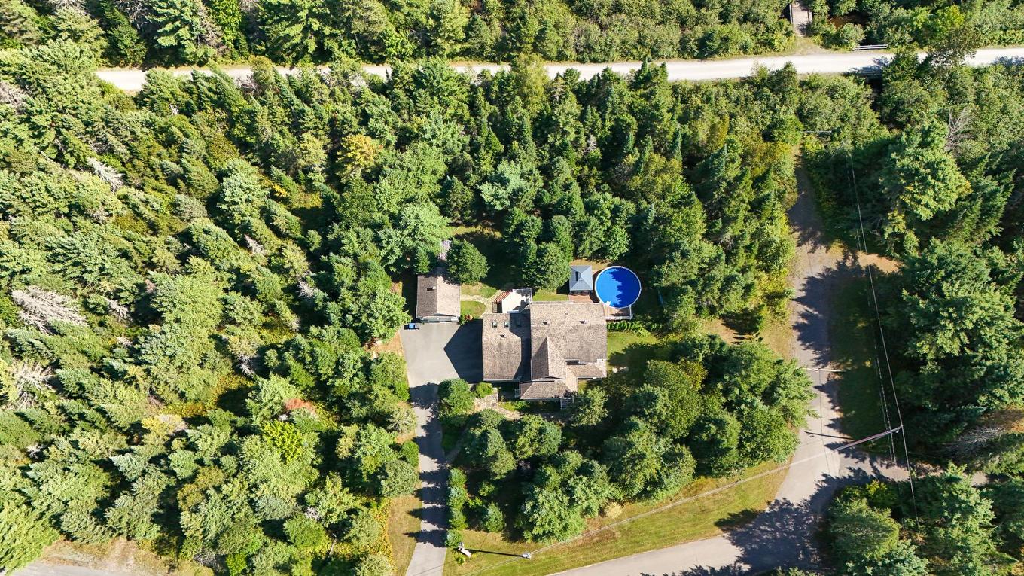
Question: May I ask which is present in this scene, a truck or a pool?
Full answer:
This aerial view contains a pool.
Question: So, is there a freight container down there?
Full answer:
No, the scene contains no freight container.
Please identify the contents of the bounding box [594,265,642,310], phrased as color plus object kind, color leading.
blue swimming pool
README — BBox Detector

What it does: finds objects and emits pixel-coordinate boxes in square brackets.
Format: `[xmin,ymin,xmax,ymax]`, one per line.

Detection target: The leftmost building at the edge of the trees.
[415,271,462,321]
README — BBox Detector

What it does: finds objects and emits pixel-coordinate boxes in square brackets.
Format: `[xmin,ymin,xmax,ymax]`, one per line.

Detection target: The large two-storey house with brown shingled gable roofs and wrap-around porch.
[482,303,608,412]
